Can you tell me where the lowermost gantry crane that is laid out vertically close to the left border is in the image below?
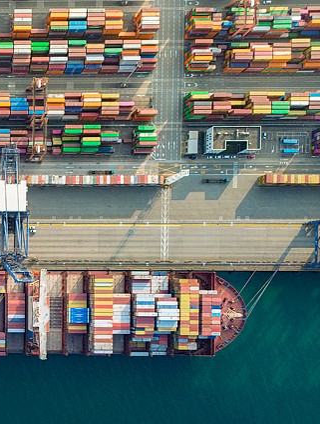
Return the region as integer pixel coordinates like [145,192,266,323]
[0,139,44,281]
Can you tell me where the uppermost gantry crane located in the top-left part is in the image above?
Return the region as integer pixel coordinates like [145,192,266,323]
[23,74,47,123]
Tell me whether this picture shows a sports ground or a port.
port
